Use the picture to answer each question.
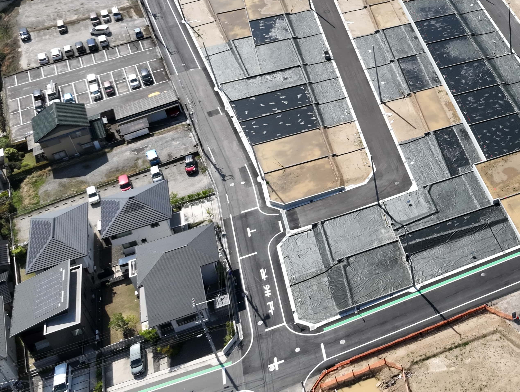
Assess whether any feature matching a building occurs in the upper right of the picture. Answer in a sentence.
No, looking in the upper right of the picture, there is no building.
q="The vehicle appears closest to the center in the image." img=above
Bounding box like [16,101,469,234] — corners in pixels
[184,155,198,173]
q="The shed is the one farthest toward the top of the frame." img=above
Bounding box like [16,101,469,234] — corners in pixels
[111,86,179,123]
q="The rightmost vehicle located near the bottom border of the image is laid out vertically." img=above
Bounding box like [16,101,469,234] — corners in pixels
[129,341,146,378]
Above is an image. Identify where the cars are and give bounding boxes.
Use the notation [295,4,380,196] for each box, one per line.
[33,87,45,101]
[133,25,143,38]
[88,72,98,83]
[149,164,166,182]
[103,79,114,95]
[98,34,109,46]
[63,90,75,103]
[51,46,61,59]
[36,51,51,67]
[19,26,31,41]
[146,149,160,166]
[111,3,122,19]
[44,81,59,100]
[91,12,100,24]
[100,8,111,21]
[129,341,146,378]
[75,40,85,54]
[57,19,68,32]
[89,81,102,100]
[89,24,113,35]
[34,98,45,114]
[184,155,198,173]
[118,173,132,192]
[85,184,101,203]
[63,43,74,56]
[139,66,153,85]
[128,72,141,90]
[119,251,130,274]
[86,37,97,51]
[53,364,71,392]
